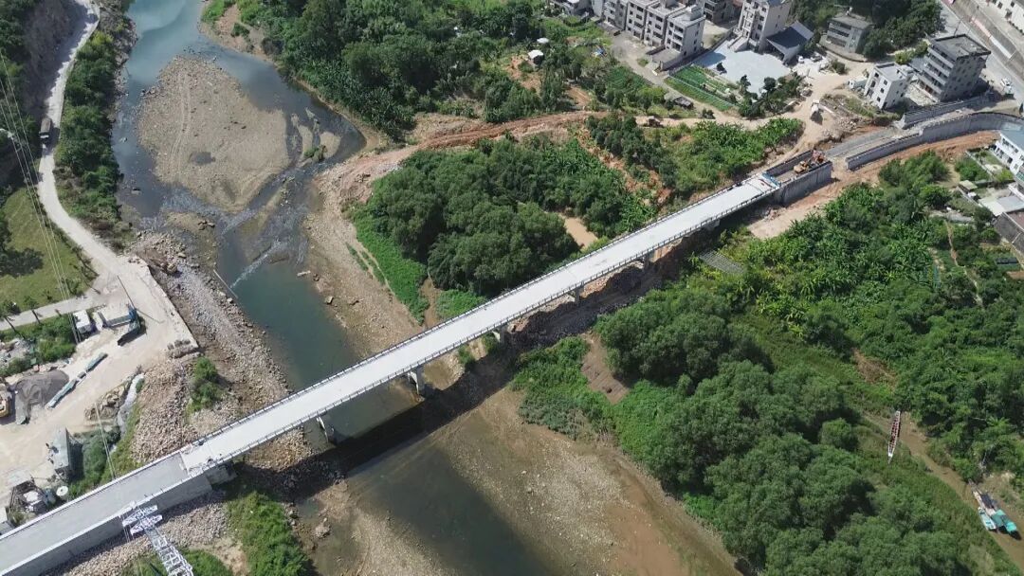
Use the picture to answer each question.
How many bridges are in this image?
1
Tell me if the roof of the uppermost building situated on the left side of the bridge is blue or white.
white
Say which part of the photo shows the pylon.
bottom left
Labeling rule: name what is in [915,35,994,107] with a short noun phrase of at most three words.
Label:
building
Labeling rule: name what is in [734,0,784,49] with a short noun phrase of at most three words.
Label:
house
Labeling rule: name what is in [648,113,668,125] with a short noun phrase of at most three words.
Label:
vehicle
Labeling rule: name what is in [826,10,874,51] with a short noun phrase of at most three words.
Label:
house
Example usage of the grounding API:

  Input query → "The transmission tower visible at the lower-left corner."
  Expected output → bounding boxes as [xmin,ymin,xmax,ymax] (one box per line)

[120,508,198,576]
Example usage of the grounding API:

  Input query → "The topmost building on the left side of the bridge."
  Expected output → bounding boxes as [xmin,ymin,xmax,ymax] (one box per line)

[72,308,95,335]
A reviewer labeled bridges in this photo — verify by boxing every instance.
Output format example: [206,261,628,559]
[179,171,781,482]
